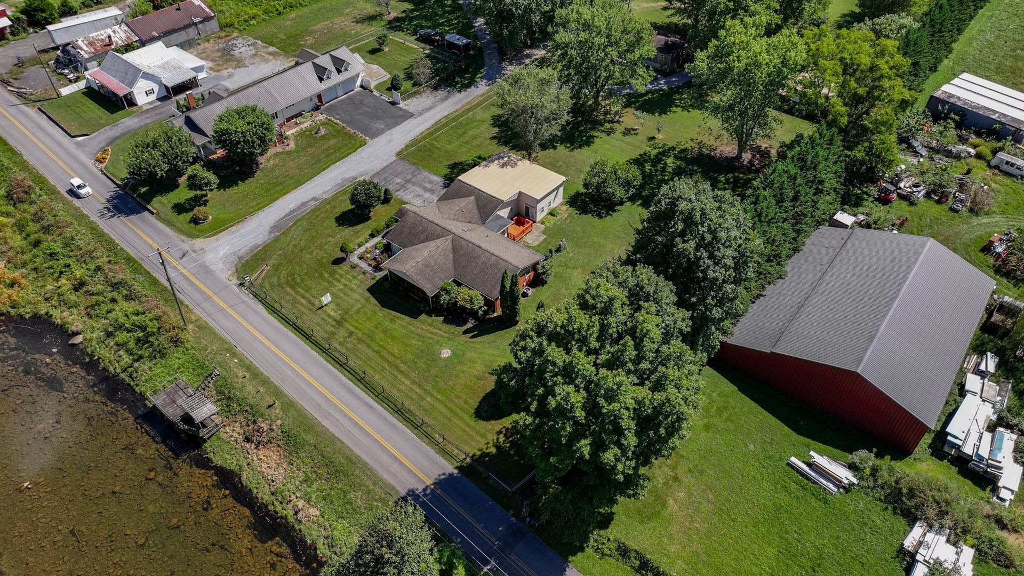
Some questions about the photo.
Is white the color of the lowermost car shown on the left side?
Yes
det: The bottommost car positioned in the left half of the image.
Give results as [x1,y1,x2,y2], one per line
[69,177,95,199]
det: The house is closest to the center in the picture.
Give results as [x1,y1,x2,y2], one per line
[380,151,572,310]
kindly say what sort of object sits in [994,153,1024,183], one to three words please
van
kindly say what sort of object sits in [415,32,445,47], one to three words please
vehicle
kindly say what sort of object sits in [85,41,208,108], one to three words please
house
